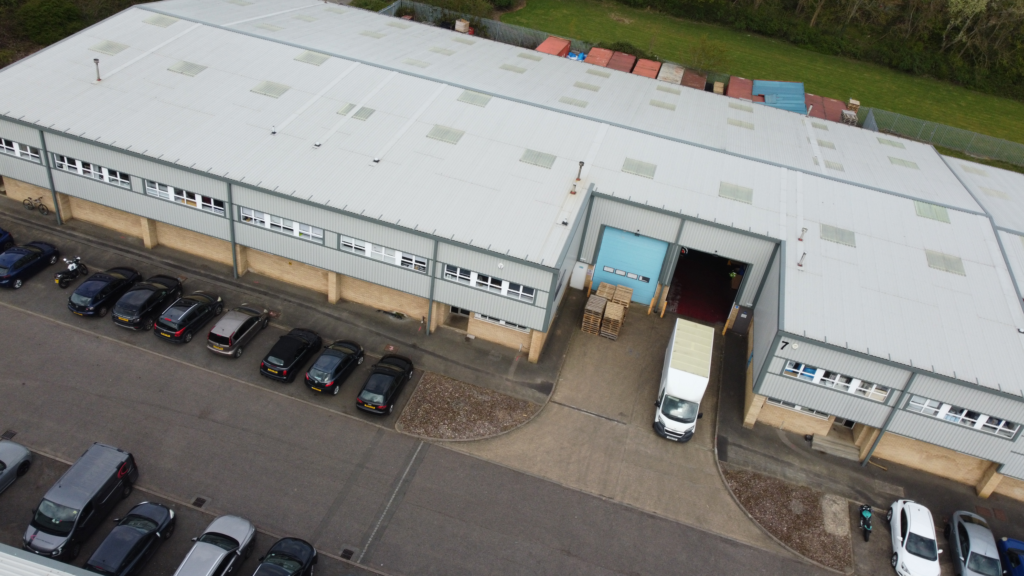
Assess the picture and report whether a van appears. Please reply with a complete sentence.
Yes, this view includes a van.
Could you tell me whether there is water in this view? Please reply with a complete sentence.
No, water can't be seen anywhere here.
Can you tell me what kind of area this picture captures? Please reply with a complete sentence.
The picture captures an industrial area.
